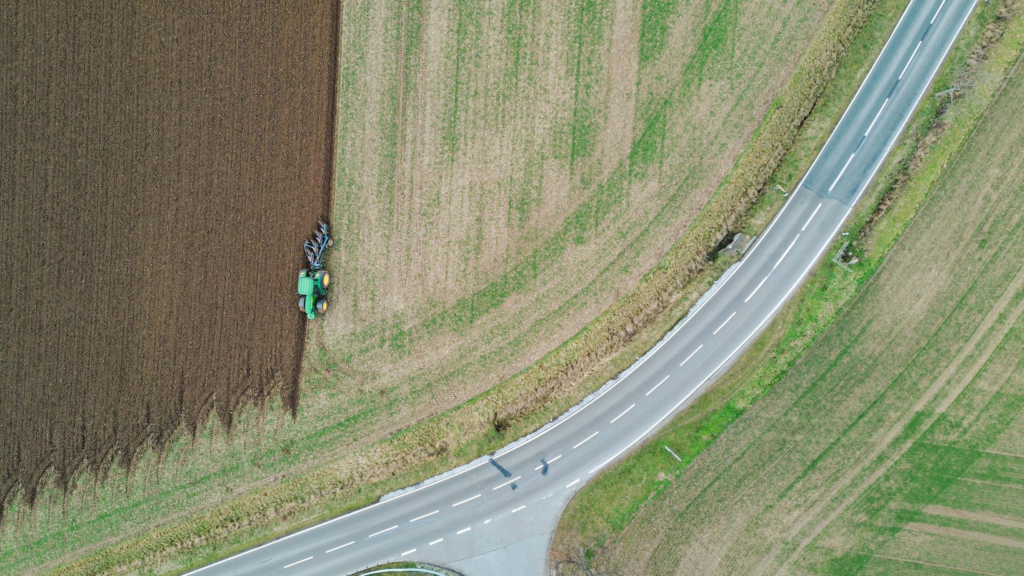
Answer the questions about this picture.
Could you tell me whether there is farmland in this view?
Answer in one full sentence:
Yes, farmland shows up in the scene.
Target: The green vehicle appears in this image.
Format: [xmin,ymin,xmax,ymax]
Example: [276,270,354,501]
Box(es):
[298,264,331,319]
